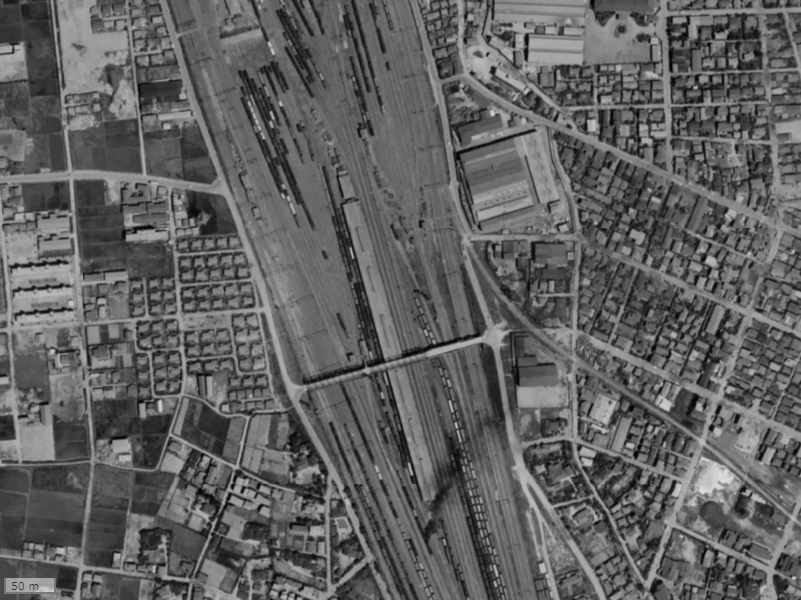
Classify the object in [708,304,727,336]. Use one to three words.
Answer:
shed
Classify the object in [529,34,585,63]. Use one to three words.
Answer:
building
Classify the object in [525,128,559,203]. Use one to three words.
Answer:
building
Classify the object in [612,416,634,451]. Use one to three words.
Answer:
shed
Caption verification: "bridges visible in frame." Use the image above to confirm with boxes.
[301,334,487,391]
